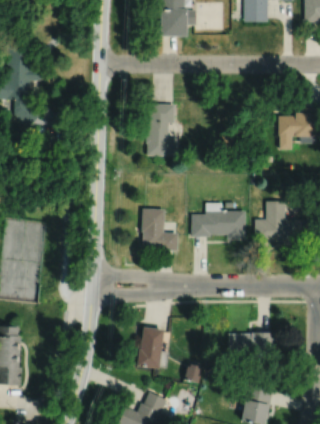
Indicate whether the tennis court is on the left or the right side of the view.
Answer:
left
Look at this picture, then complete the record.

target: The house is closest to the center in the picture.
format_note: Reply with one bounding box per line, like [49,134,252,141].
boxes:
[142,208,178,251]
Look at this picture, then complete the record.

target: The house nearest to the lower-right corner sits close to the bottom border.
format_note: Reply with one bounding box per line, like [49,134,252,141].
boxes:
[242,389,270,424]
